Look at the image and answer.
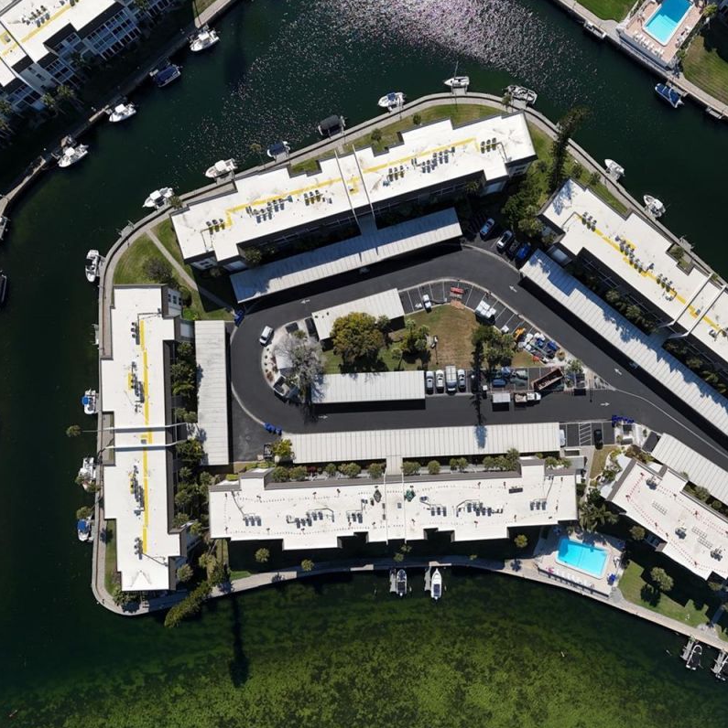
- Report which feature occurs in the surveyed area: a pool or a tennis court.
pool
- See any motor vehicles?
Yes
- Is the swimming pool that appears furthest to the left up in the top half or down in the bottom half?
bottom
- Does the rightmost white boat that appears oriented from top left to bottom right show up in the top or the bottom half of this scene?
top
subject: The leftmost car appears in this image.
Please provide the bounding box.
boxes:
[260,327,274,345]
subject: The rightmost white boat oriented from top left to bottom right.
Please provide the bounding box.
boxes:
[642,197,666,219]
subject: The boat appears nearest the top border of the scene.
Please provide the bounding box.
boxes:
[192,31,221,50]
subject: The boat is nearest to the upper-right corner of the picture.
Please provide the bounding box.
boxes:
[657,85,682,108]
